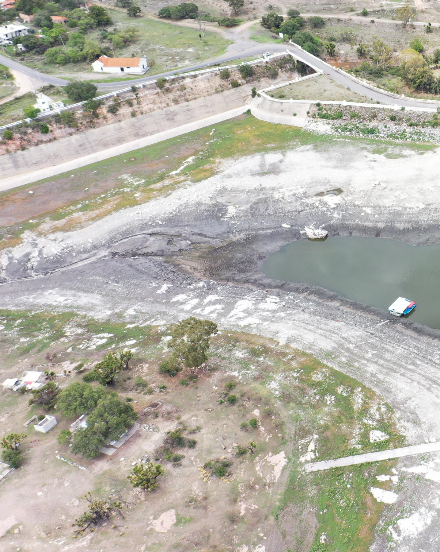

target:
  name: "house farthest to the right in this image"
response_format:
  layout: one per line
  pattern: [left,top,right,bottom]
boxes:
[87,51,156,77]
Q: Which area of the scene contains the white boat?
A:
right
